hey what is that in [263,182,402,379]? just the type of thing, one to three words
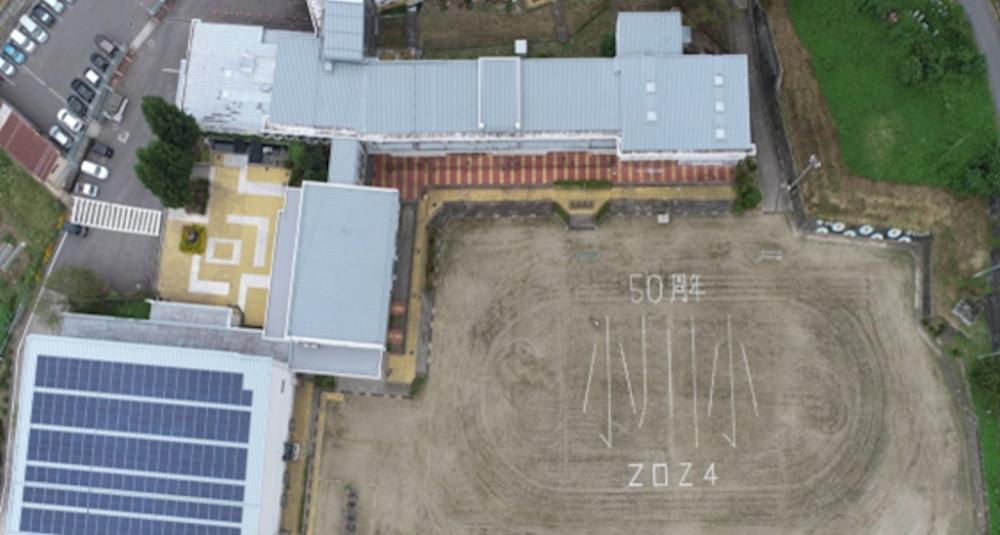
building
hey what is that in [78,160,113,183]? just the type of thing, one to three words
car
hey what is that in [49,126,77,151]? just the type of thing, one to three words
car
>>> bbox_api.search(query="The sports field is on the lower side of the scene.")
[317,211,976,535]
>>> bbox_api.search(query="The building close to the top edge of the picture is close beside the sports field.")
[176,0,756,170]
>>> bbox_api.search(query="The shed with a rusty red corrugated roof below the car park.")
[0,100,62,182]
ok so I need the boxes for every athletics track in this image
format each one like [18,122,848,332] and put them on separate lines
[466,287,903,508]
